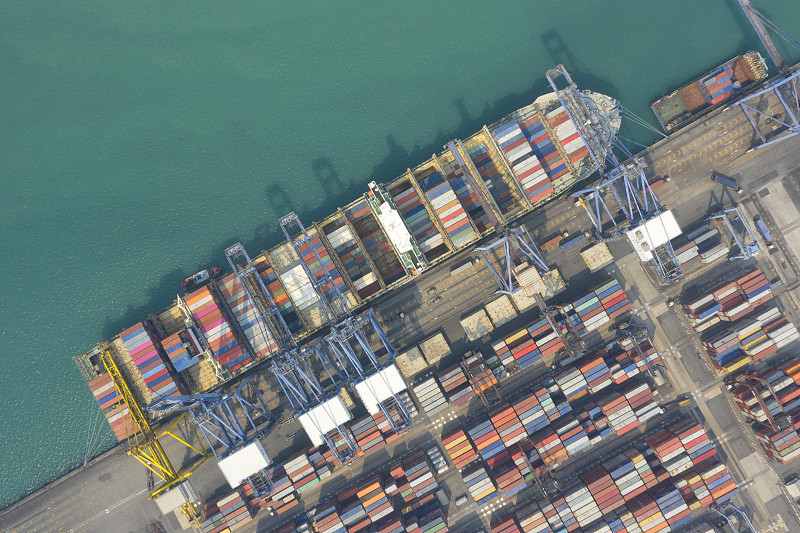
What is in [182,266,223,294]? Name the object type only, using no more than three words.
boat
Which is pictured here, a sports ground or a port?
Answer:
port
